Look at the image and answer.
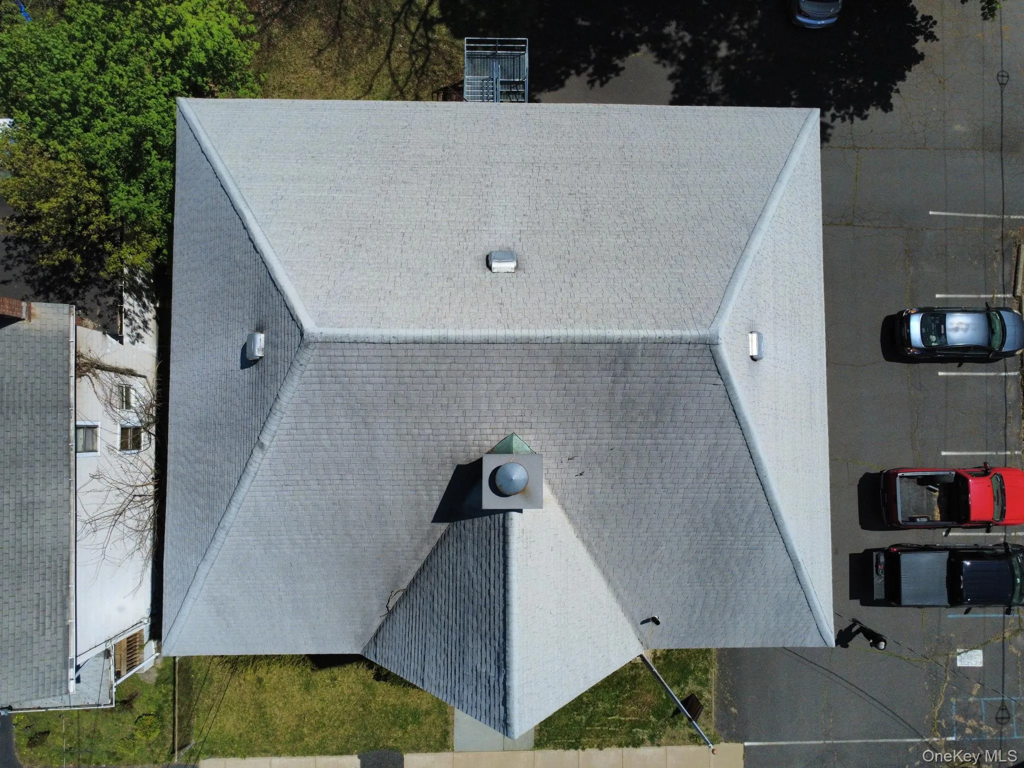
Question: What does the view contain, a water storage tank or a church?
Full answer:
Looking from above, you can make out a church.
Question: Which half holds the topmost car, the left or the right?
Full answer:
The topmost car is on the right side of the image.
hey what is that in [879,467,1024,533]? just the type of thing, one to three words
truck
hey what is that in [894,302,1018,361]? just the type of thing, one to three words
car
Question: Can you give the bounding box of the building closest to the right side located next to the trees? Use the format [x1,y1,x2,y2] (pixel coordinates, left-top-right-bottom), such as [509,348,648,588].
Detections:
[162,97,836,742]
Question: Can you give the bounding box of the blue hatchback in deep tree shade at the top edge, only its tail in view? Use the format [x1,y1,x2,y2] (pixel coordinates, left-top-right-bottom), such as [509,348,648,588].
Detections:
[787,0,843,32]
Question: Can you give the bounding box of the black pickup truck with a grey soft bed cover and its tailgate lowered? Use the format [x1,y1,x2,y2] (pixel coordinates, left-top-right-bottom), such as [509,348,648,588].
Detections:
[873,543,1024,612]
